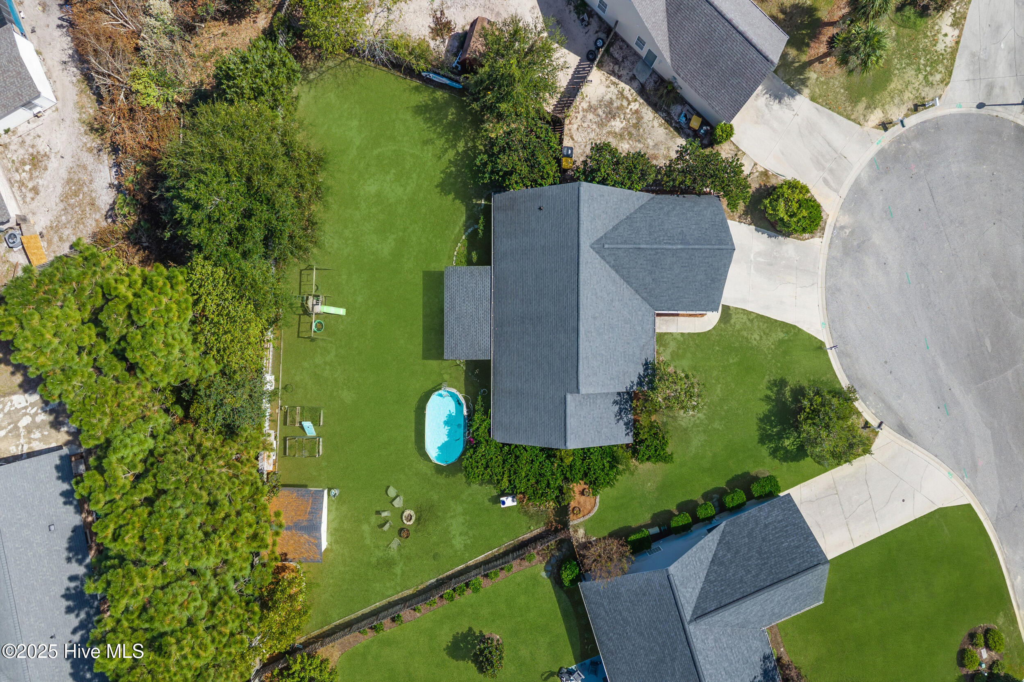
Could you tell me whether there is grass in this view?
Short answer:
Yes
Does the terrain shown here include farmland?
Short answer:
No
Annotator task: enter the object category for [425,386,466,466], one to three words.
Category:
swimming pool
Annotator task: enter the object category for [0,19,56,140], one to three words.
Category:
house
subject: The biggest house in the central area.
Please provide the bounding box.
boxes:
[444,183,735,450]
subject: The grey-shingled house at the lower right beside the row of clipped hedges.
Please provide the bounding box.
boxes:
[577,495,829,682]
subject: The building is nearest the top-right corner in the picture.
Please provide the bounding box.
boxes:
[595,0,790,126]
